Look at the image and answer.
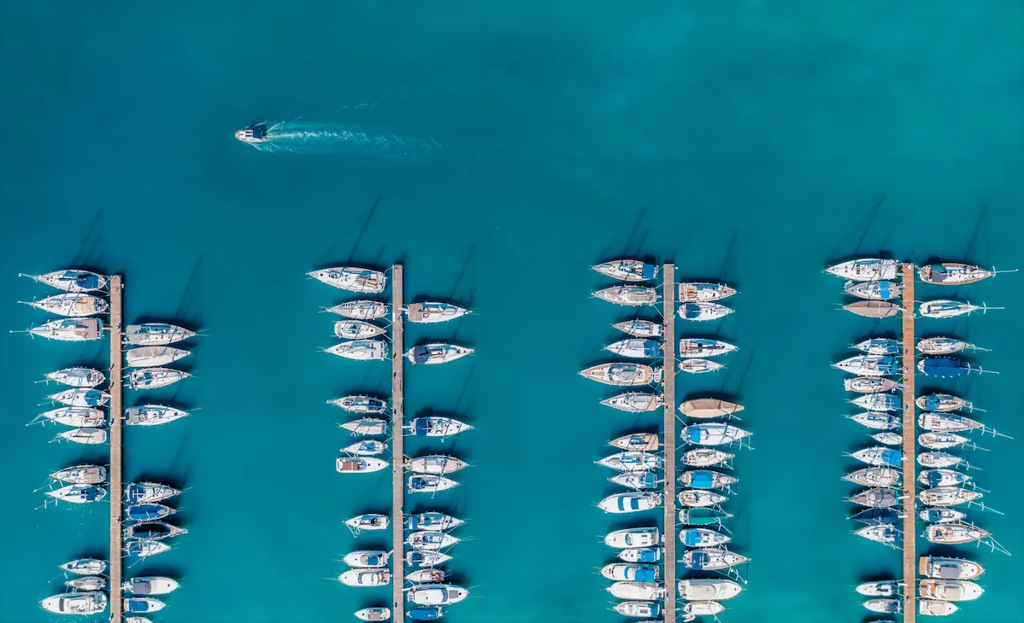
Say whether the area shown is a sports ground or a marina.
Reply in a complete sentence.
The picture captures a marina.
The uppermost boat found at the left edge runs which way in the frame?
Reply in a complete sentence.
In this picture, the uppermost boat found at the left edge lies from side to side.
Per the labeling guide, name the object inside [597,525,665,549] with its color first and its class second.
white boat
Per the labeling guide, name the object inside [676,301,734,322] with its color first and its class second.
white boat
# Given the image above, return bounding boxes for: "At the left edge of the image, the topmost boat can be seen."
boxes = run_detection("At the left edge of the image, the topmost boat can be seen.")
[23,267,111,293]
